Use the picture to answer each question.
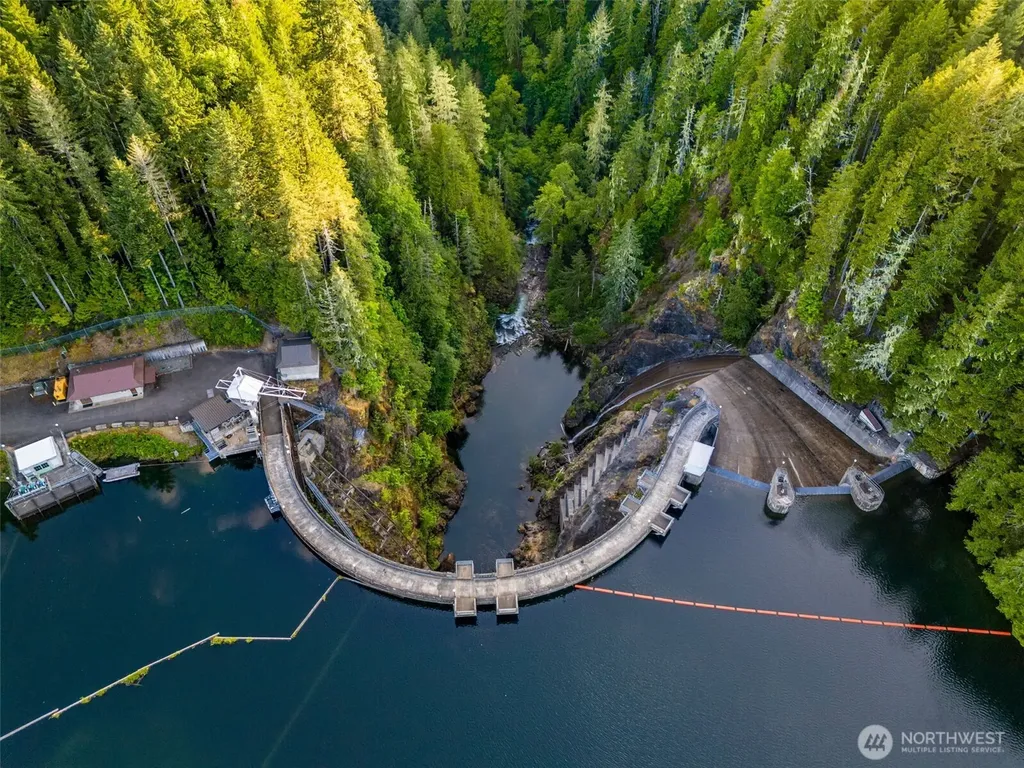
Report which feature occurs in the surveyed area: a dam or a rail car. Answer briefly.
dam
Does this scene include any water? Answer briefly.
Yes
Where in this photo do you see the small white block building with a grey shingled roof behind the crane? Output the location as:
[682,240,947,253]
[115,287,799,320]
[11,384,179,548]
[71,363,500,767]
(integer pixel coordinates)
[274,340,321,384]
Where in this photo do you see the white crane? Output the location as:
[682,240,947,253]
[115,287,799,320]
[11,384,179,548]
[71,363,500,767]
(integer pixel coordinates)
[211,363,308,426]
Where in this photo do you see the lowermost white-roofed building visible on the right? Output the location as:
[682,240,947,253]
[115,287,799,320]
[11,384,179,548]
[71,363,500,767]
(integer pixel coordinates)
[682,440,714,494]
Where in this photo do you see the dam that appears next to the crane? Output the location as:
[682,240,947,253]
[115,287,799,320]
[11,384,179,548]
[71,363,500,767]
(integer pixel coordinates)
[260,392,714,622]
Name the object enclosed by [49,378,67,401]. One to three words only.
vehicle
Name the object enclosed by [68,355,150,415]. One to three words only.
building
